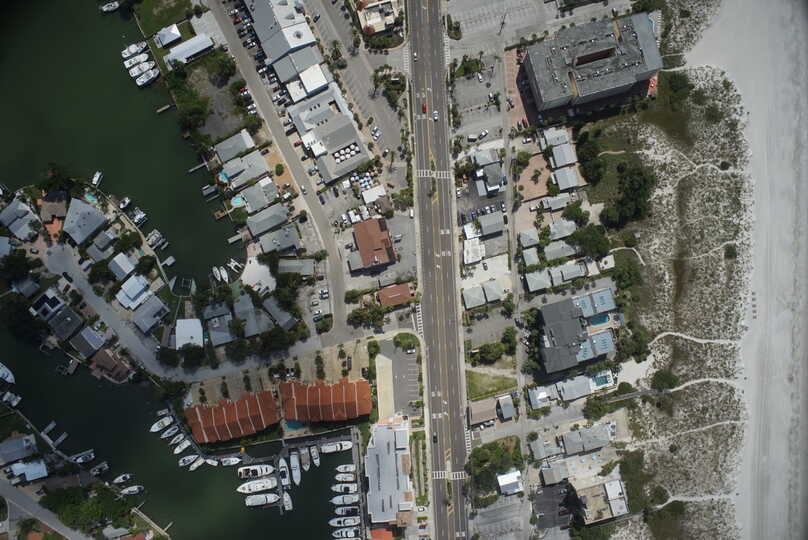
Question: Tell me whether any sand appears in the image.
Yes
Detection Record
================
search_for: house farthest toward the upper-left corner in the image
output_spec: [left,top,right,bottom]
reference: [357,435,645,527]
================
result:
[155,24,182,50]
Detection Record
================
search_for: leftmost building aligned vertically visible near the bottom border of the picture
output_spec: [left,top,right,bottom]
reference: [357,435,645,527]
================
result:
[367,422,413,527]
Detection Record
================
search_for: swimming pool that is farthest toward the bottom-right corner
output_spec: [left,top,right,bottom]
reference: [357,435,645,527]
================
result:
[589,369,615,391]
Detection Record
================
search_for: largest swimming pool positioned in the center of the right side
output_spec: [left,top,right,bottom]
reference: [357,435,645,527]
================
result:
[583,312,624,335]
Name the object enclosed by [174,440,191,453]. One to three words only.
boat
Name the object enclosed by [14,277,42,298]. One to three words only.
house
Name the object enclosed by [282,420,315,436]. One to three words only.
swimming pool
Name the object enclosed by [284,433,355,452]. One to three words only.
pier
